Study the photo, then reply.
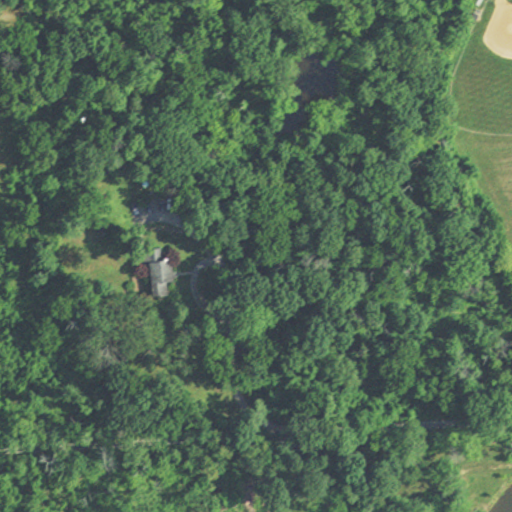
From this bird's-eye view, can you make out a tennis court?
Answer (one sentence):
No, the frame has no tennis court in it.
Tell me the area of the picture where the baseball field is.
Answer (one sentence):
Look in the top right portion of the view to spot the baseball field.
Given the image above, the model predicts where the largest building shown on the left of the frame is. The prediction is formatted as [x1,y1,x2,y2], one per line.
[150,258,178,298]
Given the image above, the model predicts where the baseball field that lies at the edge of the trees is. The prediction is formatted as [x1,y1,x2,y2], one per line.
[450,0,512,136]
